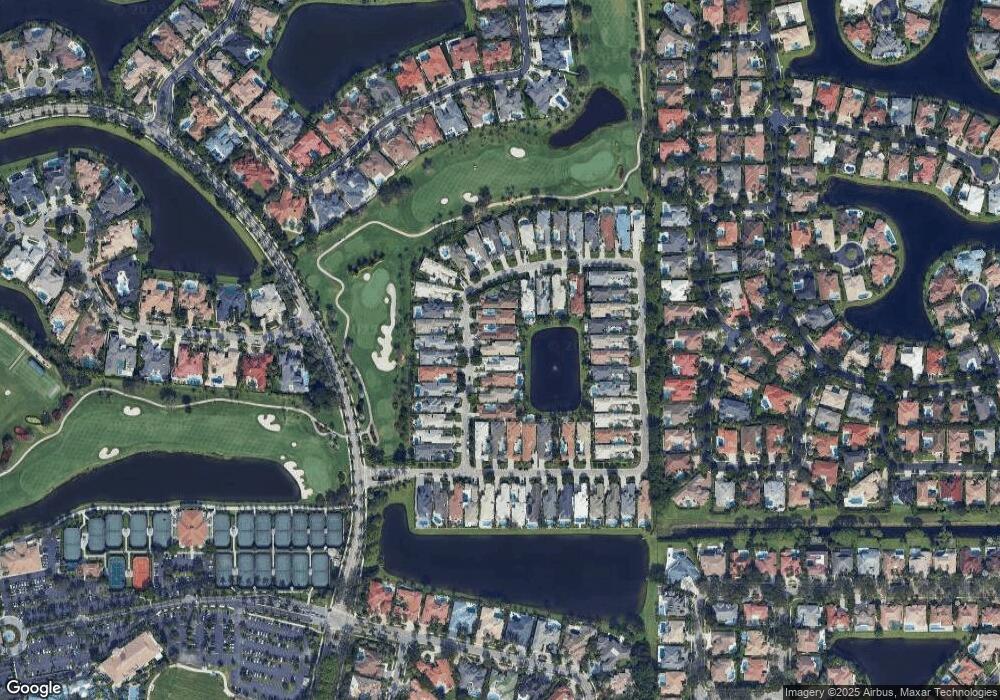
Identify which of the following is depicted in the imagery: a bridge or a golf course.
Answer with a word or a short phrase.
golf course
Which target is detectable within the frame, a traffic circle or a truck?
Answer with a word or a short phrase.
traffic circle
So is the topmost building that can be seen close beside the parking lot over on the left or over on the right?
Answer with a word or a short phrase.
left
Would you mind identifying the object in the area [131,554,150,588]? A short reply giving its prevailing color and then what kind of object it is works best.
red tennis court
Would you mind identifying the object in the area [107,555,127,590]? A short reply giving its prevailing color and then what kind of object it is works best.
blue tennis court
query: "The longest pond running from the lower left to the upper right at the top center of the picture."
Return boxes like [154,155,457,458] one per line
[550,86,627,148]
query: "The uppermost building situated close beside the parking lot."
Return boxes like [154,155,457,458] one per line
[177,511,203,544]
